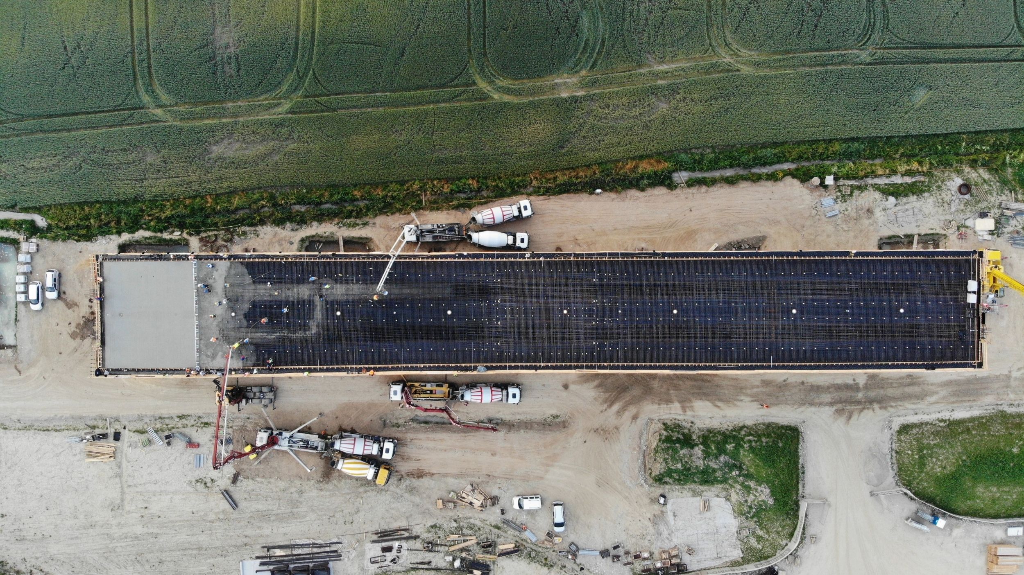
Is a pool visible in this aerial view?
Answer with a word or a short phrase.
No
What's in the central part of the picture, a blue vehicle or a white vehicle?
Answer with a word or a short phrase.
white vehicle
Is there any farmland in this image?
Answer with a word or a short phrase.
Yes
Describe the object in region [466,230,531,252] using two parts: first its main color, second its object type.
white truck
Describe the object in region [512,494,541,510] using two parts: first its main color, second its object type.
white car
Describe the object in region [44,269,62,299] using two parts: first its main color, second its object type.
white car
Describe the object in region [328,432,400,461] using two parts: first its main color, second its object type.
white truck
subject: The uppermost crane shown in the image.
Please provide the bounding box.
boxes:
[976,248,1024,307]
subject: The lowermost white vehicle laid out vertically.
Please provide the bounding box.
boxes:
[552,501,567,532]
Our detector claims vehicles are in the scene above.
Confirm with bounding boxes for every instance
[377,212,467,295]
[44,269,62,299]
[211,344,328,473]
[28,281,46,310]
[457,382,523,403]
[469,197,537,229]
[328,432,400,461]
[388,368,497,431]
[466,230,531,252]
[512,494,541,510]
[552,501,567,532]
[213,376,278,412]
[330,453,397,487]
